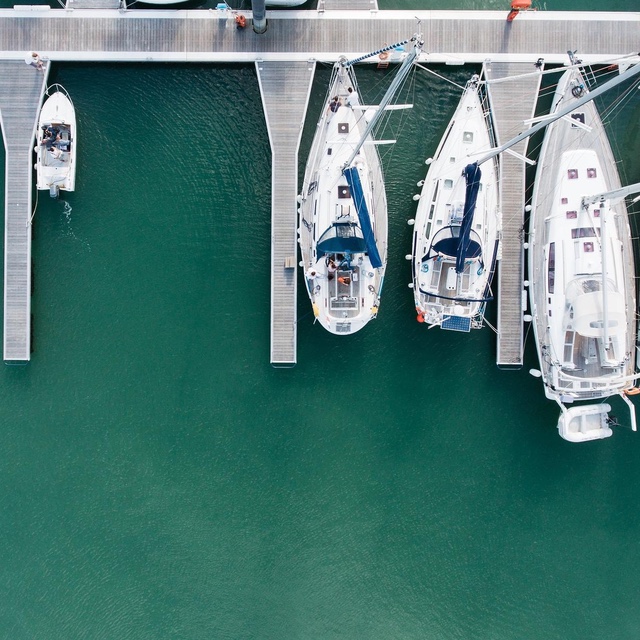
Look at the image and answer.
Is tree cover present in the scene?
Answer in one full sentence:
No, no tree cover is visible.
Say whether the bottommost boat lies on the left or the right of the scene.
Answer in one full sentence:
The bottommost boat sits on the right side.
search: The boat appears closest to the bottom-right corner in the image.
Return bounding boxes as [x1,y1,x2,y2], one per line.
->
[558,404,618,442]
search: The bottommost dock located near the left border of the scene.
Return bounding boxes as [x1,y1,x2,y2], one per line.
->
[0,56,50,365]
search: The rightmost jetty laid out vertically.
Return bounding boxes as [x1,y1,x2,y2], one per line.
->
[483,56,546,370]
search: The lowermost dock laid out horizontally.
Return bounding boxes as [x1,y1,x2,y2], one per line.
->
[0,10,640,63]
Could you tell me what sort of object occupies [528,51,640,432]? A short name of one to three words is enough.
boat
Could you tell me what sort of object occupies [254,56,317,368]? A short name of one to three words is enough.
pier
